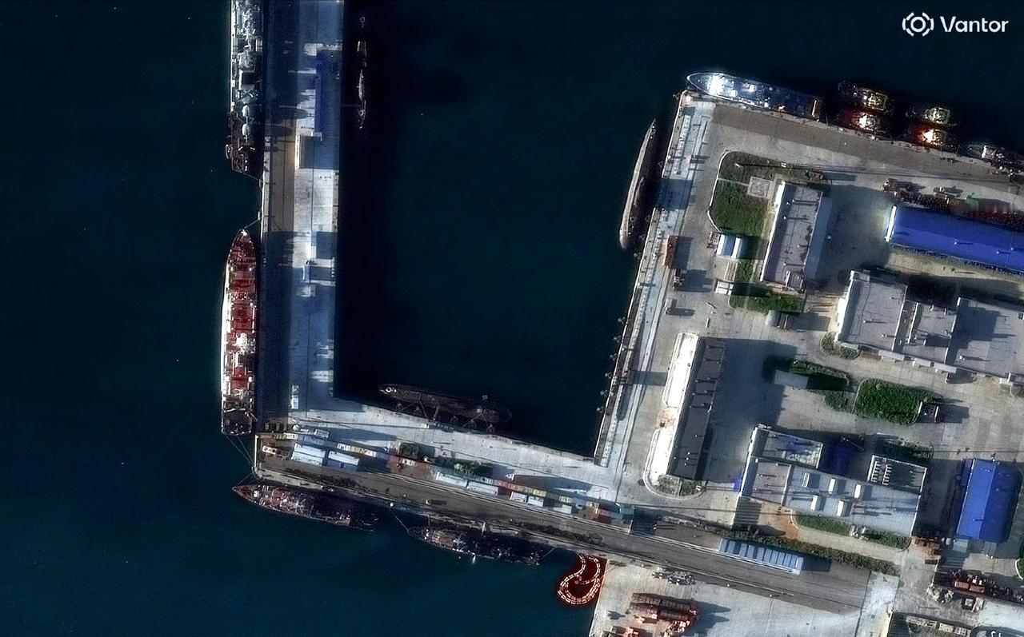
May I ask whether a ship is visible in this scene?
Yes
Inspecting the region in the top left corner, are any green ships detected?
No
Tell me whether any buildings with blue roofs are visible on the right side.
Yes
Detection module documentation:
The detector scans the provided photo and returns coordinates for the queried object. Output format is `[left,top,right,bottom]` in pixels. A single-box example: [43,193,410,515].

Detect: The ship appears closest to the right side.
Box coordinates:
[966,143,1024,169]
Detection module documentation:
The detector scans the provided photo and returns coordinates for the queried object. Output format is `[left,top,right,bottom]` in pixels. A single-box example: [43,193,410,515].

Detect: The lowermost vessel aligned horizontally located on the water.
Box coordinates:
[407,524,551,569]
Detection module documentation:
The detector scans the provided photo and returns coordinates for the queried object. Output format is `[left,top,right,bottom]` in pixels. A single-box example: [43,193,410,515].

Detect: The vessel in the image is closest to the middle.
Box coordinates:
[377,387,509,421]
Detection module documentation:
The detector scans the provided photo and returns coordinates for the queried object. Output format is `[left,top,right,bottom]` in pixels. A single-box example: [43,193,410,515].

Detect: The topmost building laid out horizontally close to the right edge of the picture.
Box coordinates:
[887,207,1024,273]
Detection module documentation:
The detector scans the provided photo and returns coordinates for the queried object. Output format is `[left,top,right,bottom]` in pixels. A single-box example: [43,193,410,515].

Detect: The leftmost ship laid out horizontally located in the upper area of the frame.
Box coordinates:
[687,72,824,118]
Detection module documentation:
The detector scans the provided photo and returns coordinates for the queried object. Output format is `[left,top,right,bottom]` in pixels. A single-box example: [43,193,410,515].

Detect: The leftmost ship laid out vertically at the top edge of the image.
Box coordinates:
[231,0,264,173]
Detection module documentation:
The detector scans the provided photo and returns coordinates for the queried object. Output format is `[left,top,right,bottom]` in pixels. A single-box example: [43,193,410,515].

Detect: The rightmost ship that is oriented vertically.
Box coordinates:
[621,121,657,248]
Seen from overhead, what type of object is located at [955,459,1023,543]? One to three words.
building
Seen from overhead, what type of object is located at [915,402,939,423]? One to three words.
shed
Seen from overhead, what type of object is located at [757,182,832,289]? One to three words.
building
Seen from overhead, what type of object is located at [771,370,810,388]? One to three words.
shed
